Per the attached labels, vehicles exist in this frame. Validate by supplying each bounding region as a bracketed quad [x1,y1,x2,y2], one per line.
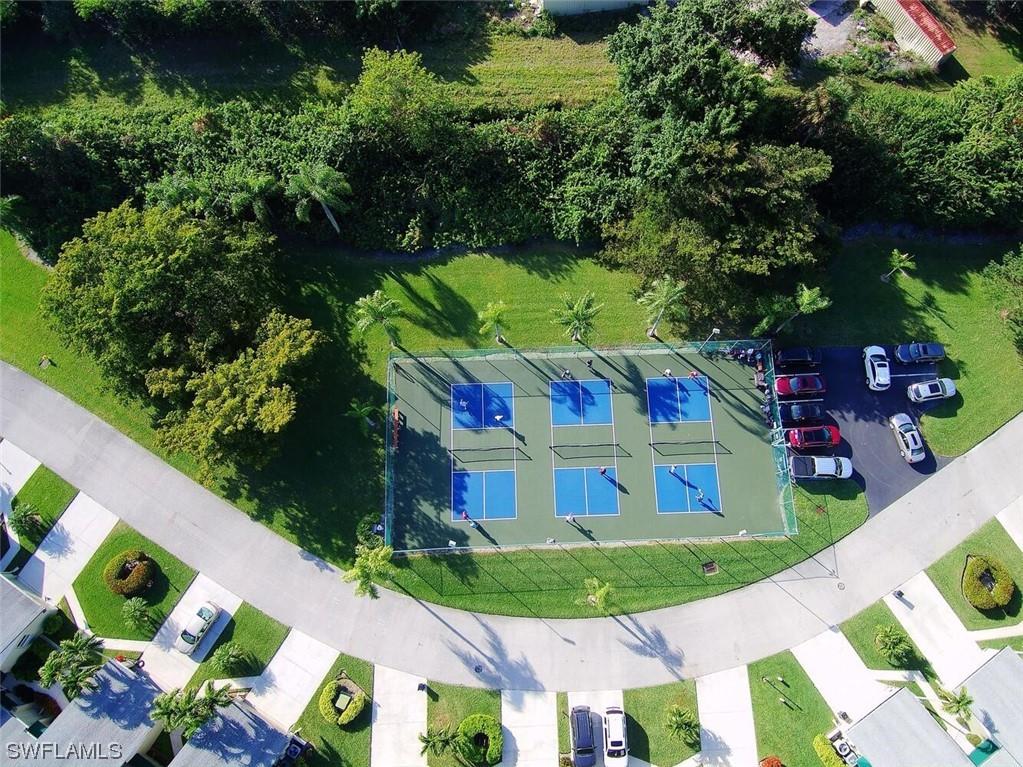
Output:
[788,424,840,448]
[894,341,947,364]
[788,454,852,479]
[602,706,630,767]
[864,346,892,391]
[776,399,830,422]
[888,412,925,464]
[774,374,827,396]
[904,378,957,402]
[570,705,599,767]
[177,599,222,655]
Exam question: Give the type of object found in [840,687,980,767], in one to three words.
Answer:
house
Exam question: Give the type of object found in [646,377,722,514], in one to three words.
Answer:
sports court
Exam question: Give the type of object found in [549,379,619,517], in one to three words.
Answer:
sports court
